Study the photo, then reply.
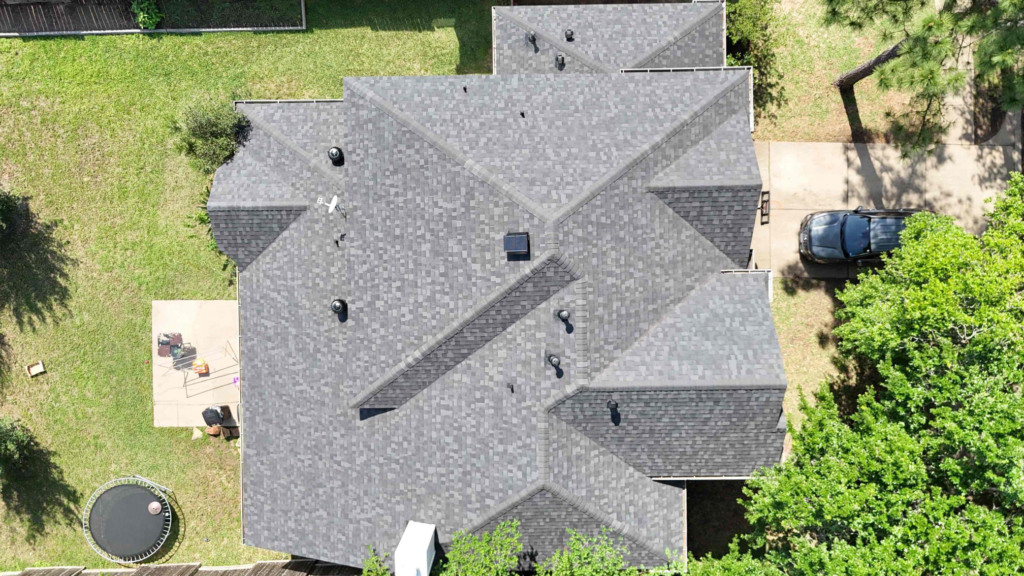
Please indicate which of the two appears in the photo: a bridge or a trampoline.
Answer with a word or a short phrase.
trampoline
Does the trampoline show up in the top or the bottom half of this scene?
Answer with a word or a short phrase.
bottom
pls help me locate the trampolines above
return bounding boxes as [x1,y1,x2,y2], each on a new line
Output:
[83,475,176,564]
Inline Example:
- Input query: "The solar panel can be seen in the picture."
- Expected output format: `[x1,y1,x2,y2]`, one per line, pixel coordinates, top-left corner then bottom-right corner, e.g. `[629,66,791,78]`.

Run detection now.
[503,234,528,253]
